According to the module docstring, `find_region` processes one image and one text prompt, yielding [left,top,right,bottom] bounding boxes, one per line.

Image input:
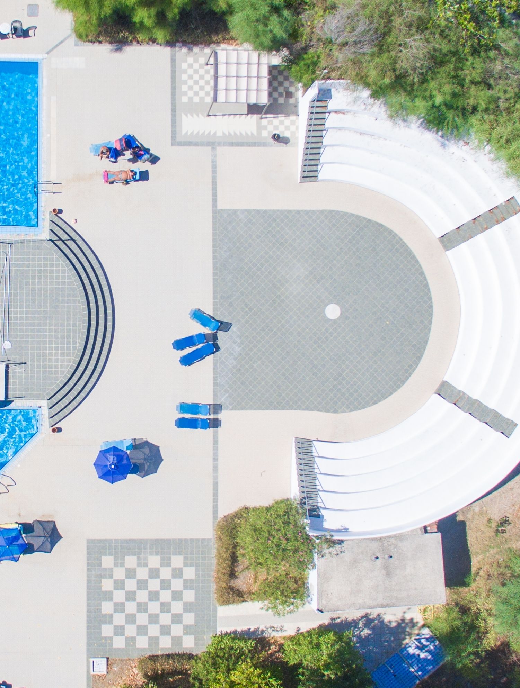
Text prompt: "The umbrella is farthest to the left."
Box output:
[0,525,30,563]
